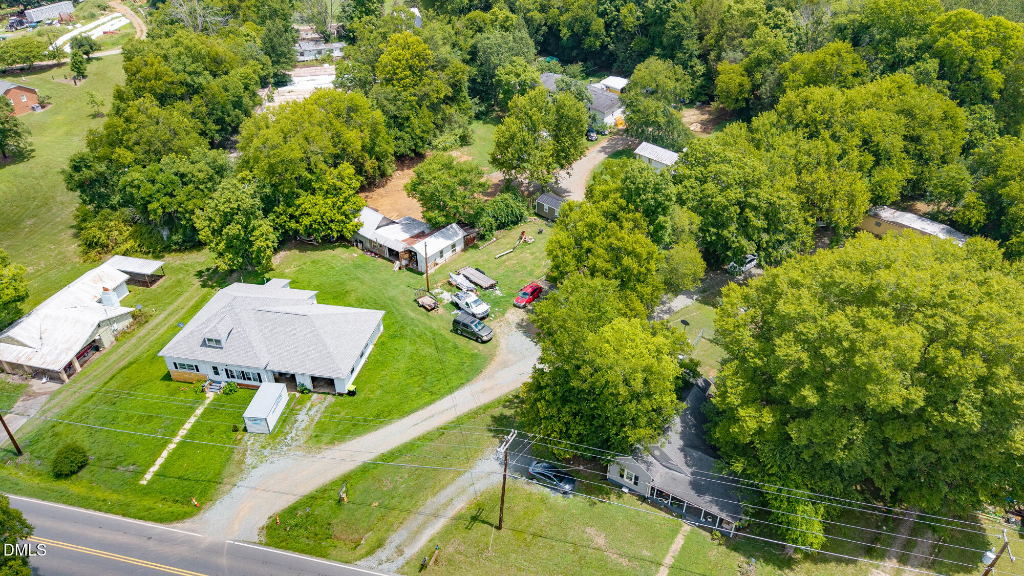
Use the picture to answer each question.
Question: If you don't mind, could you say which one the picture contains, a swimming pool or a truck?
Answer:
truck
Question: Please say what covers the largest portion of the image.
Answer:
trees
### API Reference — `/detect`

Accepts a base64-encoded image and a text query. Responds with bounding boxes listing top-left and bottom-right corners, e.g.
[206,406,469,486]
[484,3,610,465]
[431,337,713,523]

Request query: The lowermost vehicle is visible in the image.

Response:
[523,458,580,493]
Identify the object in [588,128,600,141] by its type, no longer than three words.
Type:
vehicle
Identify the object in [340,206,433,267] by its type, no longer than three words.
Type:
barn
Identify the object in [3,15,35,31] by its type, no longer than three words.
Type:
vehicle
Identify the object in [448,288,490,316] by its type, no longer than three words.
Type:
truck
